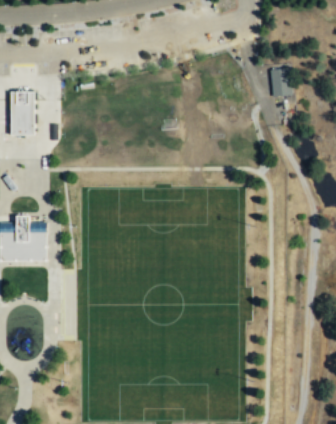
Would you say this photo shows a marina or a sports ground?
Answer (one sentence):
What you see here is a sports ground.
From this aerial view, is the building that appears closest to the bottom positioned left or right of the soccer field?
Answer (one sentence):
In the image, the building that appears closest to the bottom sits on the left side of the soccer field.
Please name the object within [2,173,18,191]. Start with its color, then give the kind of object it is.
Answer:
white vehicle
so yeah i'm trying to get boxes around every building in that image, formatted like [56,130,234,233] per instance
[272,68,295,96]
[0,215,50,262]
[11,88,36,135]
